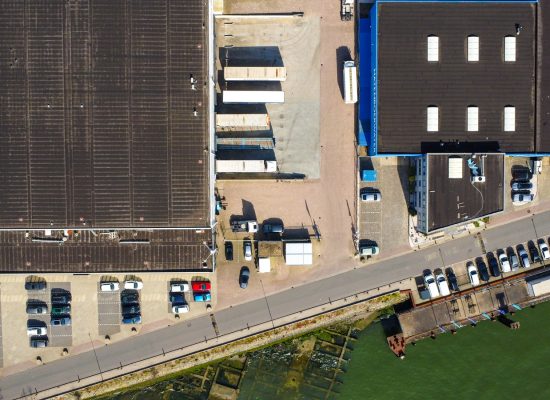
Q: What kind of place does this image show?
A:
industrial area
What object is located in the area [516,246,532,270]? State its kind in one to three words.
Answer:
car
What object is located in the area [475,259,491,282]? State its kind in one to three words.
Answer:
car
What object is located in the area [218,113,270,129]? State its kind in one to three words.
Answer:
trailer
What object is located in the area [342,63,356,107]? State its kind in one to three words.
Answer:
vehicle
